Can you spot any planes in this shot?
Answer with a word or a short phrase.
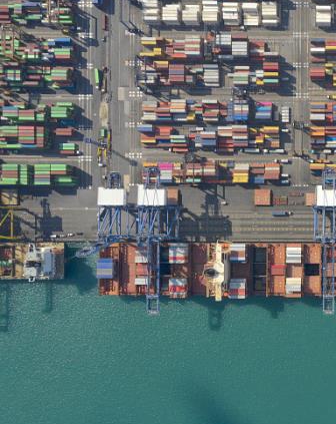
No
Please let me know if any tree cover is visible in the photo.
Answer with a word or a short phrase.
No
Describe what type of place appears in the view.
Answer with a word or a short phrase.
port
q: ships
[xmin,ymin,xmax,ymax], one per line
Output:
[98,237,336,302]
[0,242,70,282]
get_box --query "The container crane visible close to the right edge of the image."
[313,169,336,313]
